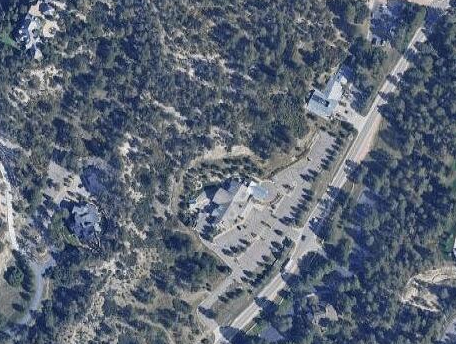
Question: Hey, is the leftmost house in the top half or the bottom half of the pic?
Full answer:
You can find the leftmost house in the top half.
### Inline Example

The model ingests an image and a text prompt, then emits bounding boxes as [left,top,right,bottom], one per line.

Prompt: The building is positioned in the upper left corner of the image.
[19,4,54,52]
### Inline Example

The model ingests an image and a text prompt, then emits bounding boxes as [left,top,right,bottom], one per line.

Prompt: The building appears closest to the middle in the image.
[195,177,269,231]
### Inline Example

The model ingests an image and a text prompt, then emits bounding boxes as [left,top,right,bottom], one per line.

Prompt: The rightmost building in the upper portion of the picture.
[307,73,349,117]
